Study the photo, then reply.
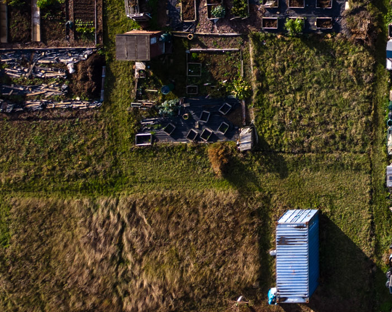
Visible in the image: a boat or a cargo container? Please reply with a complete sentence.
The one in the frame is a cargo container.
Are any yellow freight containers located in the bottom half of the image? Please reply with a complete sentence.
No, I can find no yellow freight container in the bottom half of the image.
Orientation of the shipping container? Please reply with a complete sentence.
Seen from above, the shipping container lies from top to bottom.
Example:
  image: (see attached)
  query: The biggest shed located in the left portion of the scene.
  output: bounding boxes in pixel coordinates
[116,31,164,60]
